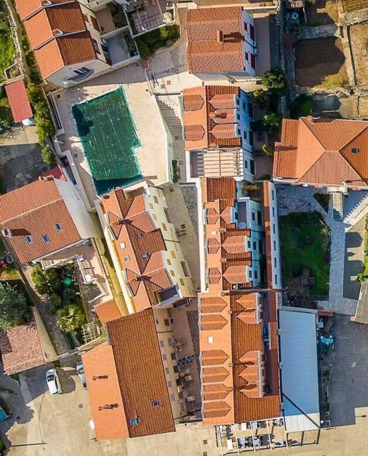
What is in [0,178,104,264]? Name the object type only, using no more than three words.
house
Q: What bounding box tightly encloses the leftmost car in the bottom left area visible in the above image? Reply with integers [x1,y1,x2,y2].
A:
[45,367,63,396]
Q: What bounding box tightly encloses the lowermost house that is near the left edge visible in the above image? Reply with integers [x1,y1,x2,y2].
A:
[0,322,67,375]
